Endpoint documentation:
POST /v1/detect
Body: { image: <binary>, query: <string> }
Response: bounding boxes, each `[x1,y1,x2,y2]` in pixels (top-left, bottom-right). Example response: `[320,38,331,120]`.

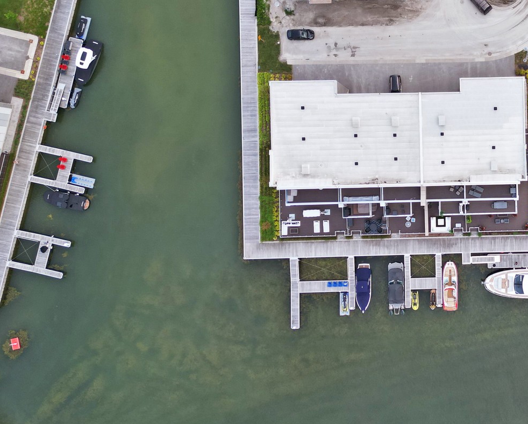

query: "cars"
[287,28,314,41]
[470,0,492,14]
[390,74,401,93]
